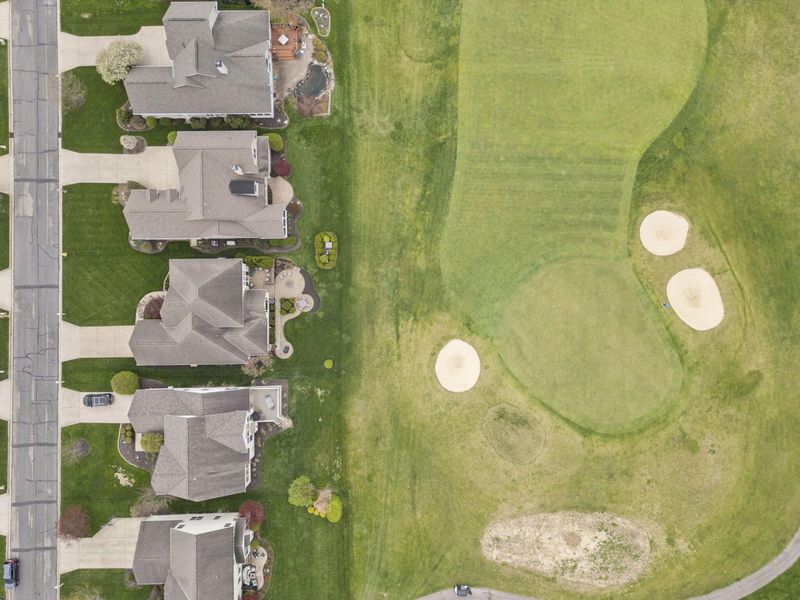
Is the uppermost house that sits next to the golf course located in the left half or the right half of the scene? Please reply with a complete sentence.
It is on the left.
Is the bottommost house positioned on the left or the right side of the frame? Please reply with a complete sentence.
The bottommost house appears in the left half of the scene.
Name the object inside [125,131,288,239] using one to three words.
house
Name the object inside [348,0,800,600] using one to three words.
golf course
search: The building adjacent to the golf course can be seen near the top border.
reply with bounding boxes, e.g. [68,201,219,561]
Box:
[124,2,275,117]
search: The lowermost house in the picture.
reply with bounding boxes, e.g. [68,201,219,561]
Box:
[133,513,259,600]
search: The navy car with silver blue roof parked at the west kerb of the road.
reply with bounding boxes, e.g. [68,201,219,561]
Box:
[2,560,20,589]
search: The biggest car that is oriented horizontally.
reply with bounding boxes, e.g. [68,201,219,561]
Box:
[80,393,112,408]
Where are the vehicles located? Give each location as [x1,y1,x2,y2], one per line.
[455,584,470,598]
[2,560,20,589]
[80,393,112,408]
